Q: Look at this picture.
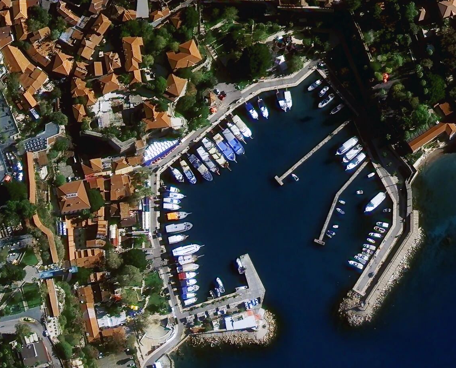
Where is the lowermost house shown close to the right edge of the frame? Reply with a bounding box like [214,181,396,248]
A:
[406,118,456,150]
